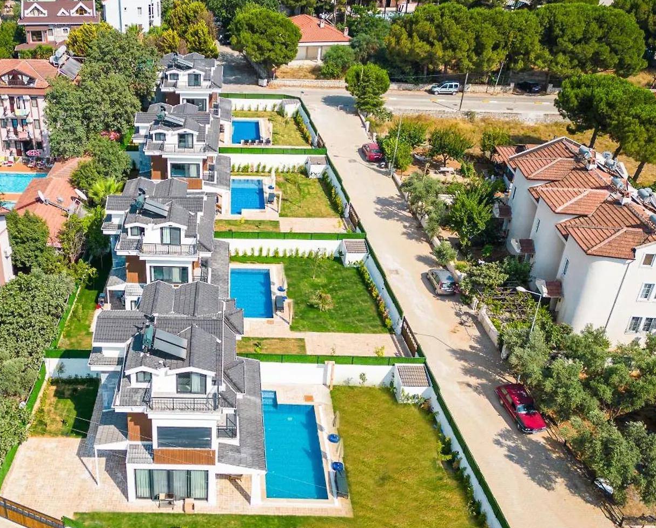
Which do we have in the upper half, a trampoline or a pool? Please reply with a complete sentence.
It is a pool that can be seen in the upper half.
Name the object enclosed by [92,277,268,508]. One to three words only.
house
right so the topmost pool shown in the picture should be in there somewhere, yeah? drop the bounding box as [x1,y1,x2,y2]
[234,120,264,145]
